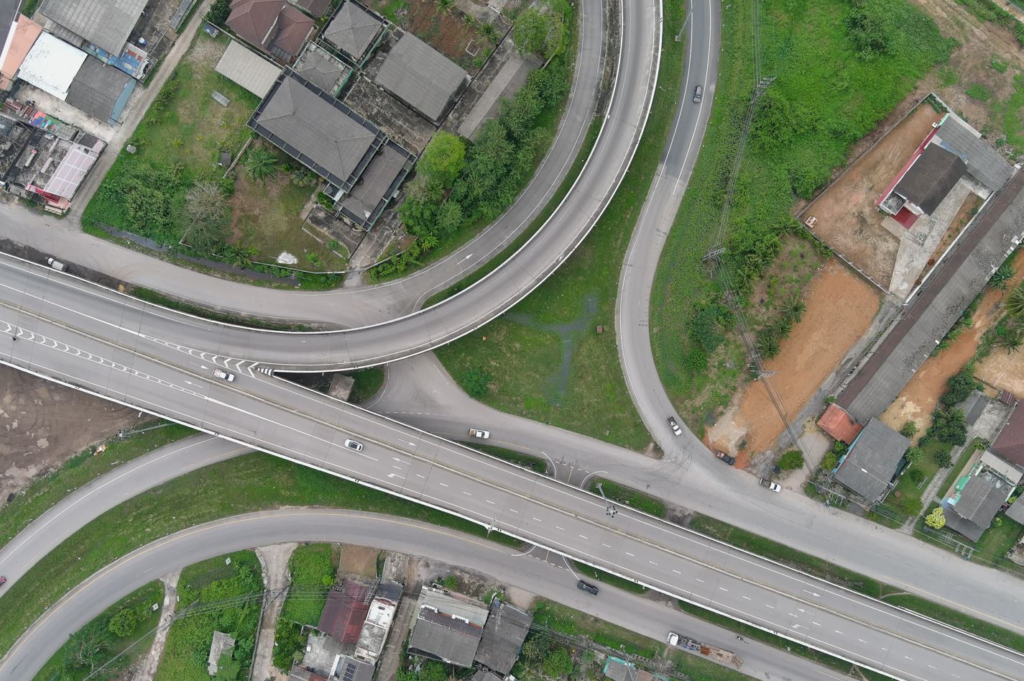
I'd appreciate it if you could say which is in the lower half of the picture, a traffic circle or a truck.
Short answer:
truck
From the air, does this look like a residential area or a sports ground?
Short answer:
residential area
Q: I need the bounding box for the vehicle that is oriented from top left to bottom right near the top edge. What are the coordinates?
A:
[199,20,221,38]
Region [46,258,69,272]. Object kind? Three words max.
vehicle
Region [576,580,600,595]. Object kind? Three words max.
vehicle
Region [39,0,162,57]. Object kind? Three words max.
building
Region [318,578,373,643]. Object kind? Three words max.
house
